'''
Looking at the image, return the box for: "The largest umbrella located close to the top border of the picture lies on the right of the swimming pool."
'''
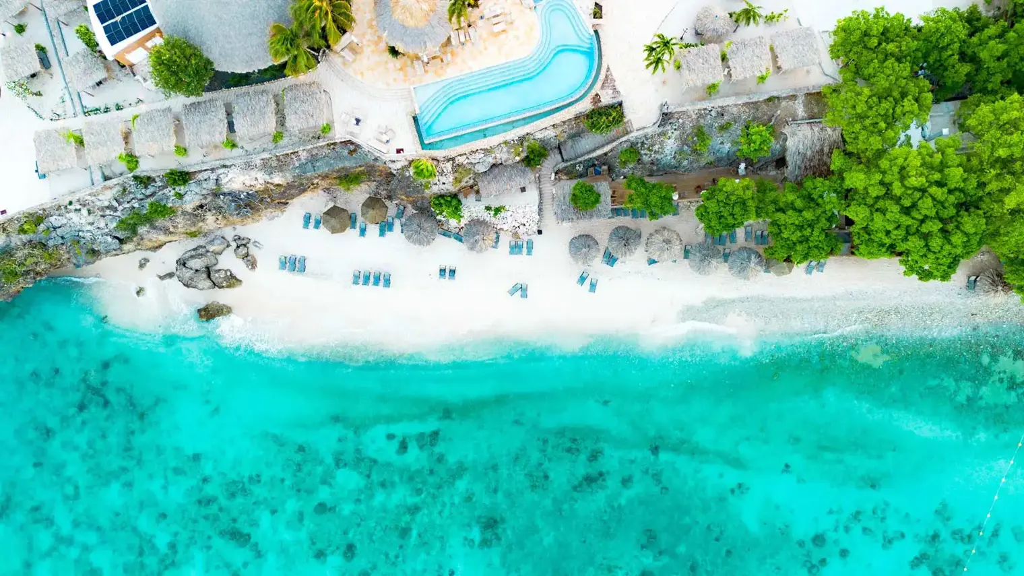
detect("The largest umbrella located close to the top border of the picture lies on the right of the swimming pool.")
[692,1,736,44]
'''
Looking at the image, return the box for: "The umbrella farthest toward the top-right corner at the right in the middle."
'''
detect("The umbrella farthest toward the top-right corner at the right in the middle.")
[974,264,1006,299]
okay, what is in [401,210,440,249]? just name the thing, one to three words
umbrella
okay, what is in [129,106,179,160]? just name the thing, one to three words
shed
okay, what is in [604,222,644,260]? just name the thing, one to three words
umbrella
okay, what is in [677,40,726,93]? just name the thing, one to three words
shed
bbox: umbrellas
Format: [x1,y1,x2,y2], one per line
[361,197,387,223]
[643,223,683,265]
[322,206,350,234]
[685,239,724,278]
[974,264,1006,299]
[692,1,736,44]
[766,252,796,278]
[460,217,498,256]
[726,243,766,283]
[401,210,440,249]
[566,232,600,266]
[604,222,644,260]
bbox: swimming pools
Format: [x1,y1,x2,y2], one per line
[406,0,609,162]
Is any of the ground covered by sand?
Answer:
Yes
